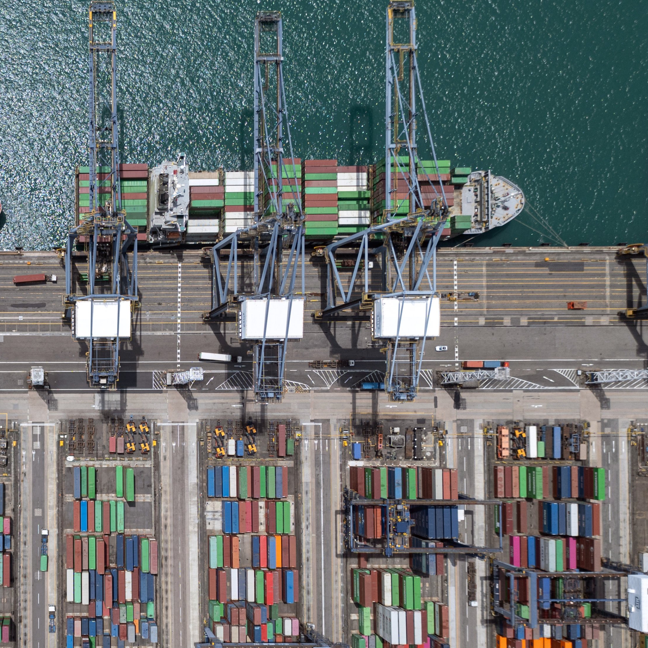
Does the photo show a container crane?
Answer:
Yes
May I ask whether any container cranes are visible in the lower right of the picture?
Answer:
Yes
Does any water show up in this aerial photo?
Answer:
Yes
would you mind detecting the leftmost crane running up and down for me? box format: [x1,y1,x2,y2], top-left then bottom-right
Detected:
[50,2,143,386]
